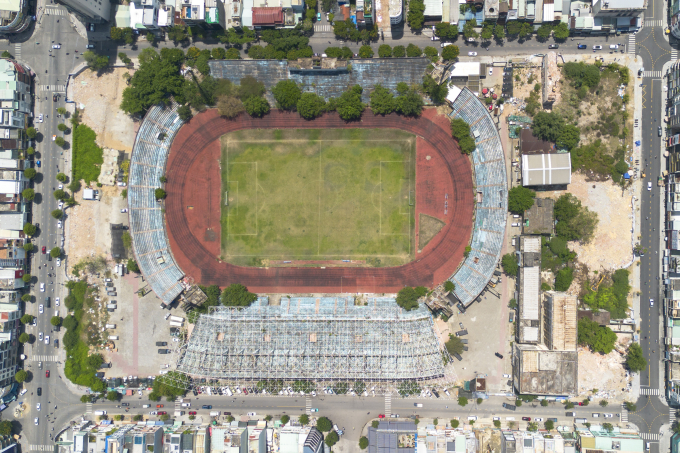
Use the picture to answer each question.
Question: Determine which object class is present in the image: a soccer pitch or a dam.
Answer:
soccer pitch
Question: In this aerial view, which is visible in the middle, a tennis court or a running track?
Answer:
running track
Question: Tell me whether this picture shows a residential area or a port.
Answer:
residential area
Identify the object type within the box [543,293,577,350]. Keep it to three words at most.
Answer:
house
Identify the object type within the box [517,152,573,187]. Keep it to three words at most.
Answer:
building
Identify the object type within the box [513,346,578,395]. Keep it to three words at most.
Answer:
house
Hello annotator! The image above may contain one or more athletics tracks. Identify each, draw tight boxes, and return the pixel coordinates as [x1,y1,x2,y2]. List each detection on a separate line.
[165,108,475,293]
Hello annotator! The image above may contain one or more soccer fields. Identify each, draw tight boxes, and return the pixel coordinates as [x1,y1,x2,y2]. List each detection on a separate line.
[221,128,416,267]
